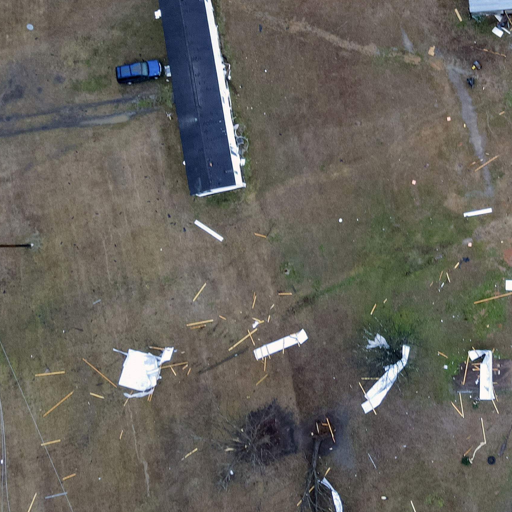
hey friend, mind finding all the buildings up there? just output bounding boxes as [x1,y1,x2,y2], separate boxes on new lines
[469,0,512,21]
[159,0,246,197]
